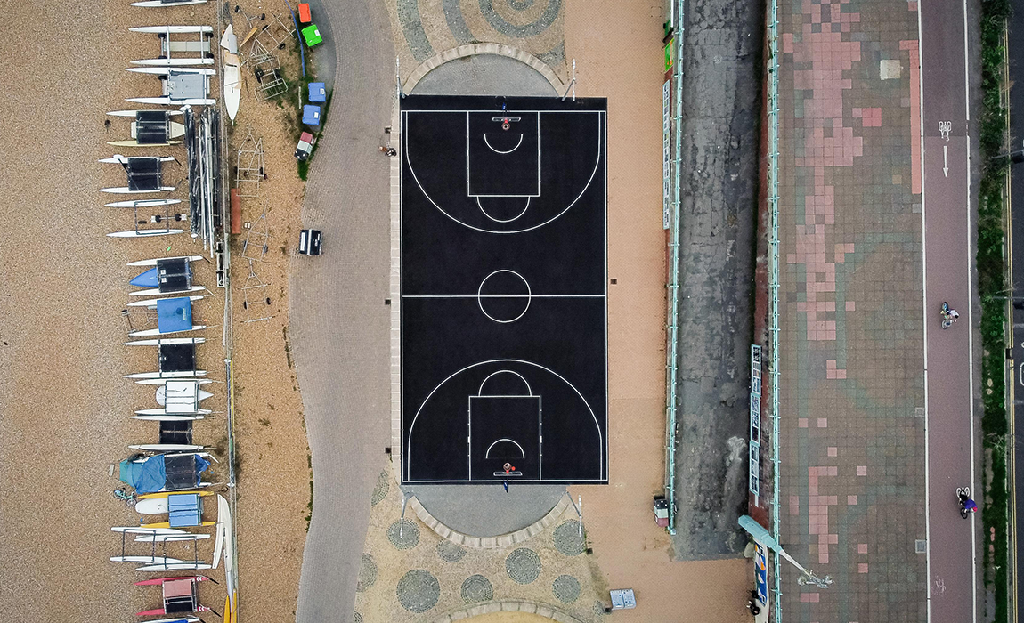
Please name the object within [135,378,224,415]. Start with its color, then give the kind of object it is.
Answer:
white boat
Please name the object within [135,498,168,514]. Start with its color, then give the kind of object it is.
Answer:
white boat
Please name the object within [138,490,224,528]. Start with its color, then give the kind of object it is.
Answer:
blue boat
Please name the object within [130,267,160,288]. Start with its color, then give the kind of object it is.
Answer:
blue boat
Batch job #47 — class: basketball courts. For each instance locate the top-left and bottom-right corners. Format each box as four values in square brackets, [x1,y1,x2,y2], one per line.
[400,97,608,484]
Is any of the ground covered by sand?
Yes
